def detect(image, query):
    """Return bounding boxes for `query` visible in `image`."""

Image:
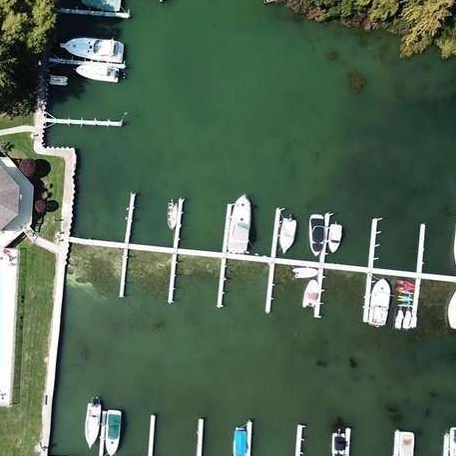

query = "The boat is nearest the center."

[229,191,254,255]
